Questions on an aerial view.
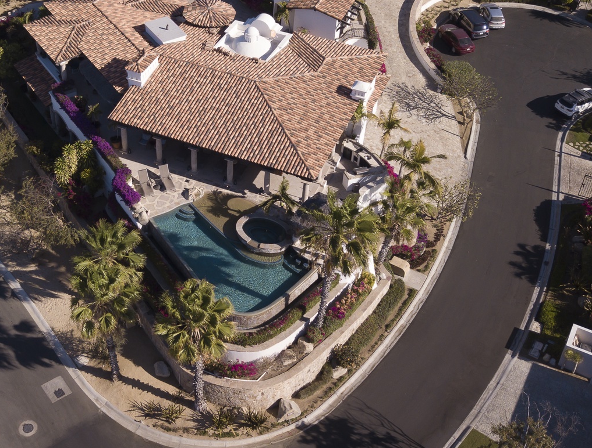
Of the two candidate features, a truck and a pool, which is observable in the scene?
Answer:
pool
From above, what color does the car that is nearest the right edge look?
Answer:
black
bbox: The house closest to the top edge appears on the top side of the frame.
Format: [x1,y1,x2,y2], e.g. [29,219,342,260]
[14,0,391,204]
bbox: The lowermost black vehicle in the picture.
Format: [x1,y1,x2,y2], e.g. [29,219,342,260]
[558,85,592,113]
